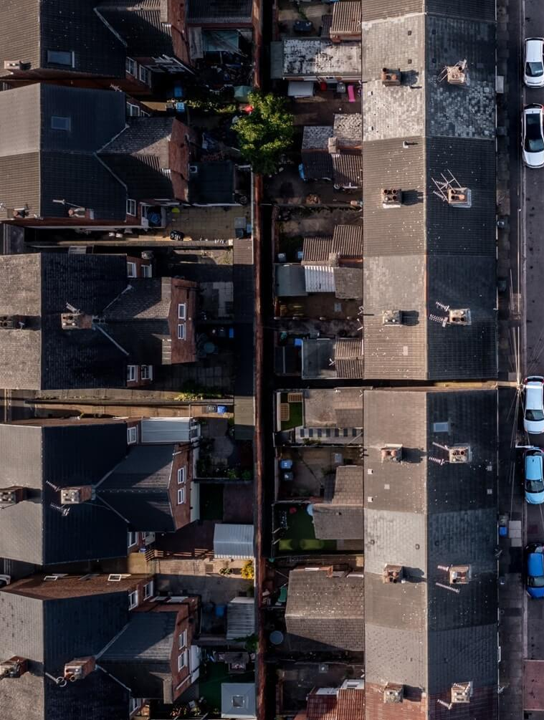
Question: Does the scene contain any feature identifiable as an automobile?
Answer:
Yes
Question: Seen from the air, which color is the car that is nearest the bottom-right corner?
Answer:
blue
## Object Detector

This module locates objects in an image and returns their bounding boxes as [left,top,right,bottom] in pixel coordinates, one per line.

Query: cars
[519,447,544,504]
[524,37,544,87]
[520,542,544,598]
[522,103,544,169]
[520,376,544,433]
